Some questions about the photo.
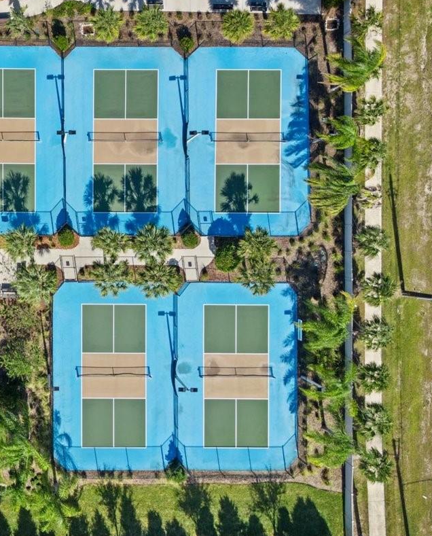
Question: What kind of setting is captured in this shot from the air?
sports ground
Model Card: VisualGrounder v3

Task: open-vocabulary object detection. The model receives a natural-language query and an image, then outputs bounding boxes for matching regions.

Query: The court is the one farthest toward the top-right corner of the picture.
[186,49,311,236]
